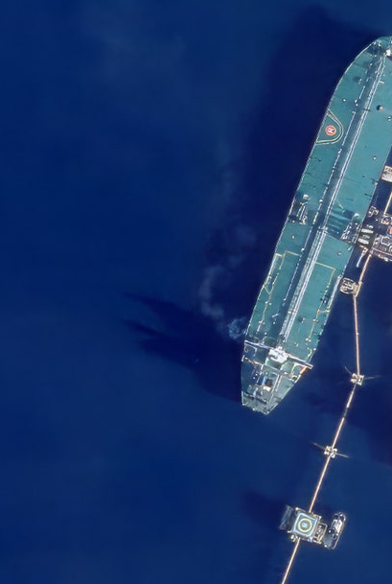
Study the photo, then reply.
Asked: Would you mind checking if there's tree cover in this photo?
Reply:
No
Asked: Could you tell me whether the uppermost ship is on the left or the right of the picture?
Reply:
right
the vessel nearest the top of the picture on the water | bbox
[240,35,392,414]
